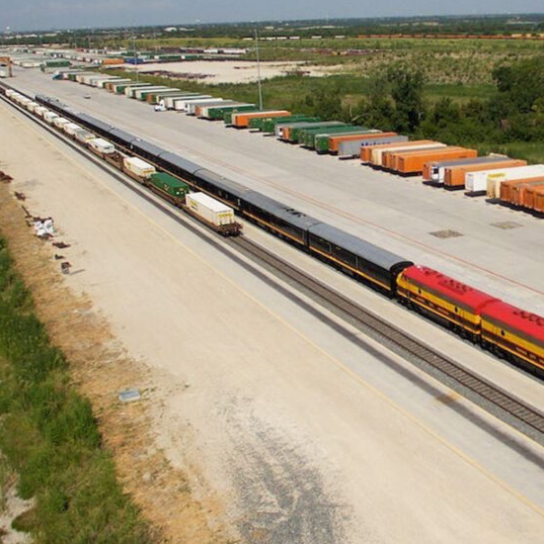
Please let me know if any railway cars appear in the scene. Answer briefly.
Yes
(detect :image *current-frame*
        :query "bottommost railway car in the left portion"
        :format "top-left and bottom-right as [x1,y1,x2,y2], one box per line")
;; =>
[187,200,247,239]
